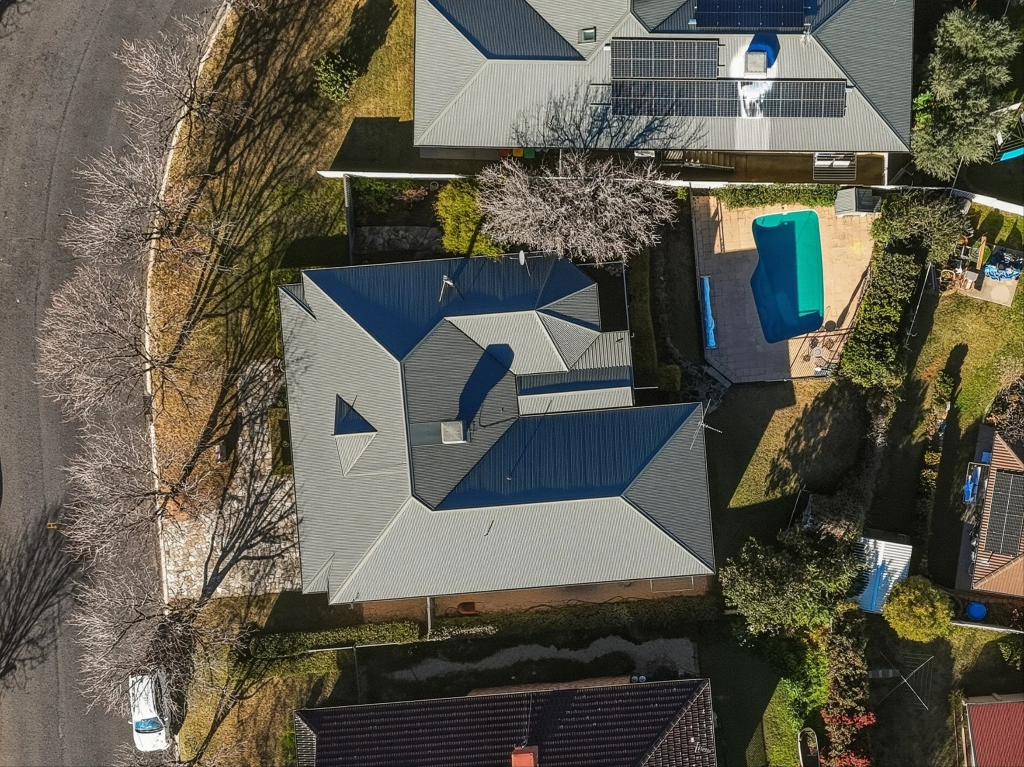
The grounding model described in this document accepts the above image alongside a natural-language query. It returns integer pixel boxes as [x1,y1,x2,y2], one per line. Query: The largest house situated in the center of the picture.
[274,252,717,608]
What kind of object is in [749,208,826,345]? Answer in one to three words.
swimming pool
